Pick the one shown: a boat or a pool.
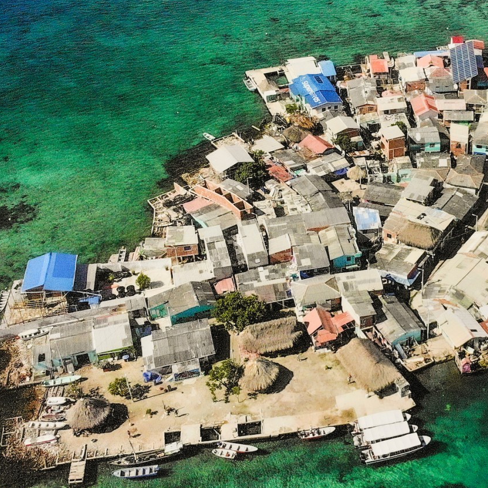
boat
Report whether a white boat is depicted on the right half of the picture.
Yes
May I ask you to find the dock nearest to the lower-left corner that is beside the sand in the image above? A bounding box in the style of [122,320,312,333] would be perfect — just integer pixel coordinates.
[68,458,87,487]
